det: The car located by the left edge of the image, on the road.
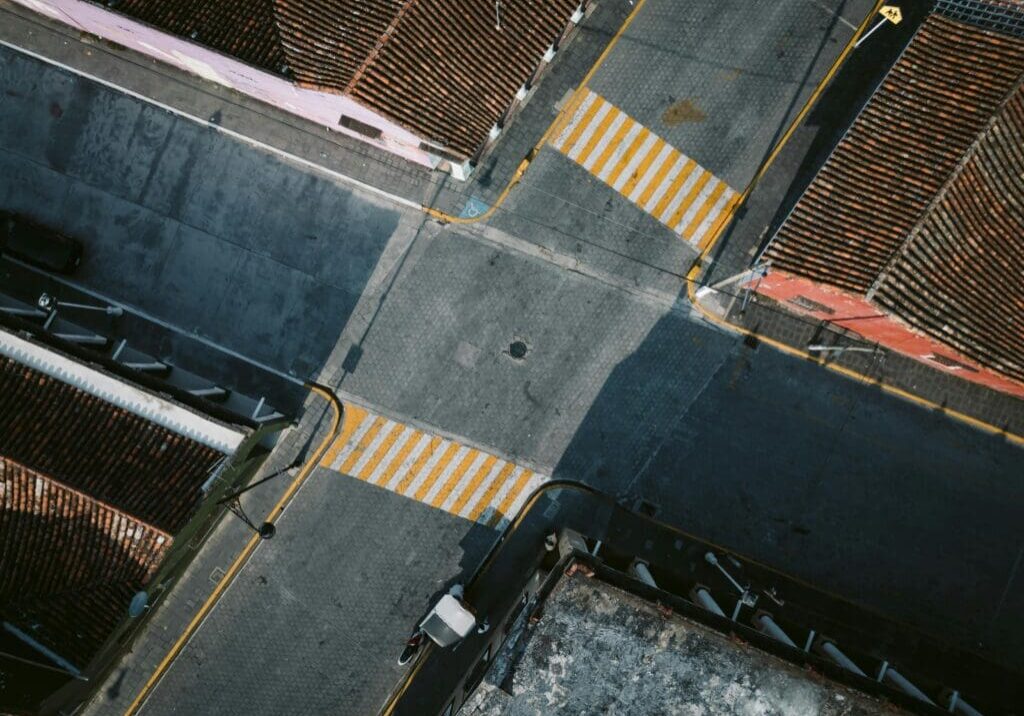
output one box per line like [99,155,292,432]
[0,208,77,268]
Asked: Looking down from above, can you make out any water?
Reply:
No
